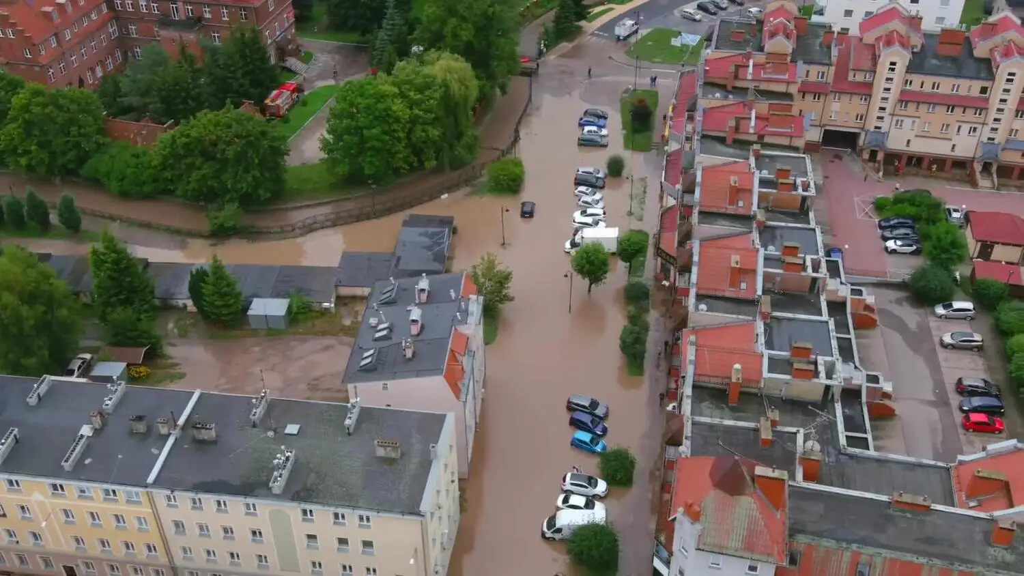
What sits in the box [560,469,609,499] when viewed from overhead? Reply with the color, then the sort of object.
white car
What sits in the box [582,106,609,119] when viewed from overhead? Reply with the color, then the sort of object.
gray vehicle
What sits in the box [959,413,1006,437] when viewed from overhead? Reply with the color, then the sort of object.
red car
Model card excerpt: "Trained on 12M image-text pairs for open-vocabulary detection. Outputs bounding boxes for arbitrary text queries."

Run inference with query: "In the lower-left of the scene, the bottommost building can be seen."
[0,374,456,576]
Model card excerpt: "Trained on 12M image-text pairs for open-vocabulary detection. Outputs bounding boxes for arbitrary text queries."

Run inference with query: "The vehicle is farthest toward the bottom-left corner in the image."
[64,351,99,374]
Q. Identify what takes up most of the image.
buildings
